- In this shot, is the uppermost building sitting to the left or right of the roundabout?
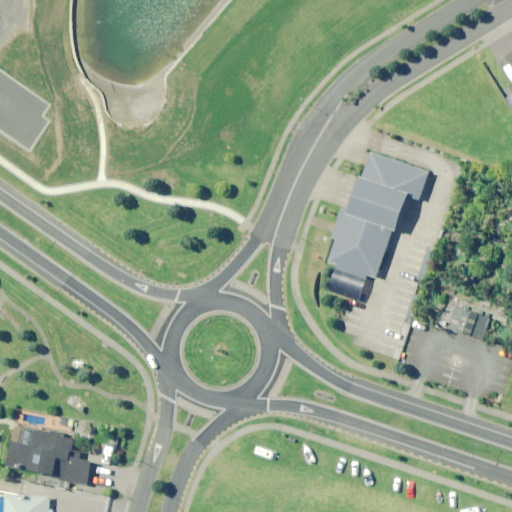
to the right of it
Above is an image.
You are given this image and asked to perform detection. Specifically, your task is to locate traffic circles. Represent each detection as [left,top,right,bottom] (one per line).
[144,242,302,442]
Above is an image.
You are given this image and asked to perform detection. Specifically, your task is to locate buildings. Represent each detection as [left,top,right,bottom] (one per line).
[464,312,478,336]
[4,496,49,512]
[5,429,90,486]
[328,150,430,302]
[474,314,490,340]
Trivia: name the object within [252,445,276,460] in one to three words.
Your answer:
camper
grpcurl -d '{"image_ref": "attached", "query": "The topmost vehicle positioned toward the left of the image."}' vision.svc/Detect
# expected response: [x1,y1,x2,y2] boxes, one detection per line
[146,353,159,370]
